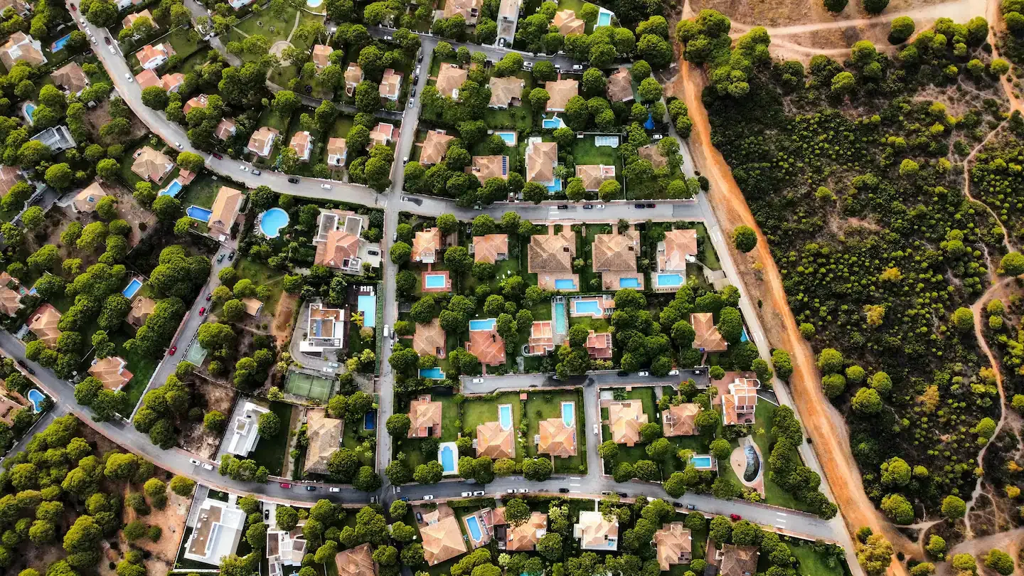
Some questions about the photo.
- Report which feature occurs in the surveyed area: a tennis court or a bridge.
tennis court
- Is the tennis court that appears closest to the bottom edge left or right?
left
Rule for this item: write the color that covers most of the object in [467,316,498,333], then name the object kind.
blue swimming pool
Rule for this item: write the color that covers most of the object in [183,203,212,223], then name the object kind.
blue swimming pool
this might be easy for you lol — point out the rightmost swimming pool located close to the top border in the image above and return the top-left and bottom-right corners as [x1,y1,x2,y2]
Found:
[592,7,615,29]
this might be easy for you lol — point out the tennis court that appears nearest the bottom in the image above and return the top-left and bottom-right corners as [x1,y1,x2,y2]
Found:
[283,369,334,402]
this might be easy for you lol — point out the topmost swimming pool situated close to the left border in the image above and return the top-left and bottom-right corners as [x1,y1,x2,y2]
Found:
[47,31,69,56]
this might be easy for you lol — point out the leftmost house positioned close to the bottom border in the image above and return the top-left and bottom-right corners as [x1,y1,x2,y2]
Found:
[185,494,245,566]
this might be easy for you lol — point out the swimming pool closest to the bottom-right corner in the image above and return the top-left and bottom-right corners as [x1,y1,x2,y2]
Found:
[735,435,771,490]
